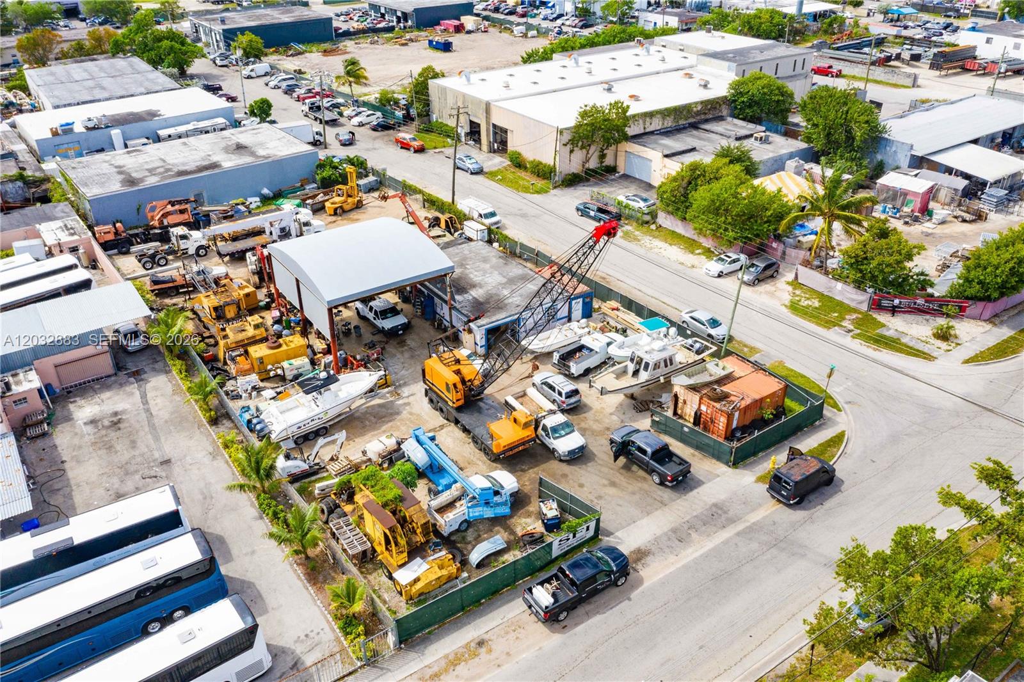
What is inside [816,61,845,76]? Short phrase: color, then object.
red vehicle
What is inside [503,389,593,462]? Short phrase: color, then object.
white truck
